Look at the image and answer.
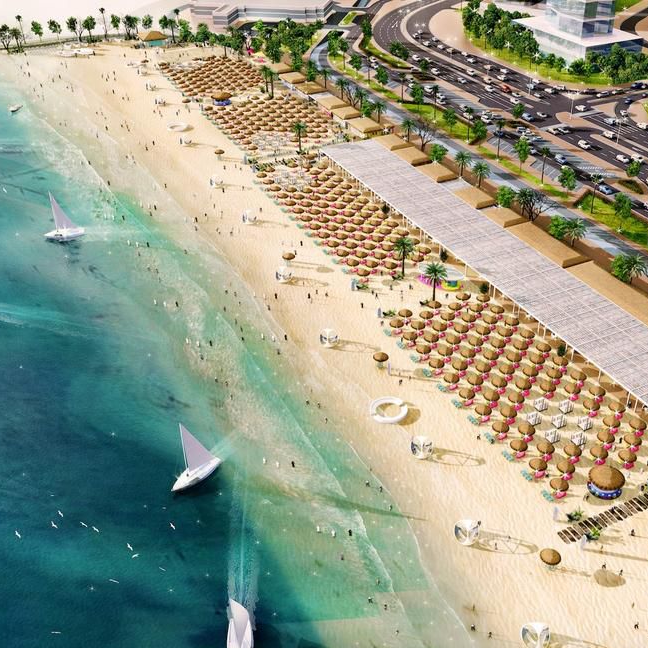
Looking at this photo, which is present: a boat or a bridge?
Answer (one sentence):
Looking from above, you can make out a boat.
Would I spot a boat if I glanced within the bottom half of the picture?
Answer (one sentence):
Yes, I can see a boat within the bottom half of the picture.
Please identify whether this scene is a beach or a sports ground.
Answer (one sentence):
It's a beach.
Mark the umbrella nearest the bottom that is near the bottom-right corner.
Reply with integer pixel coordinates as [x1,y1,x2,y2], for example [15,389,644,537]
[540,545,567,568]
